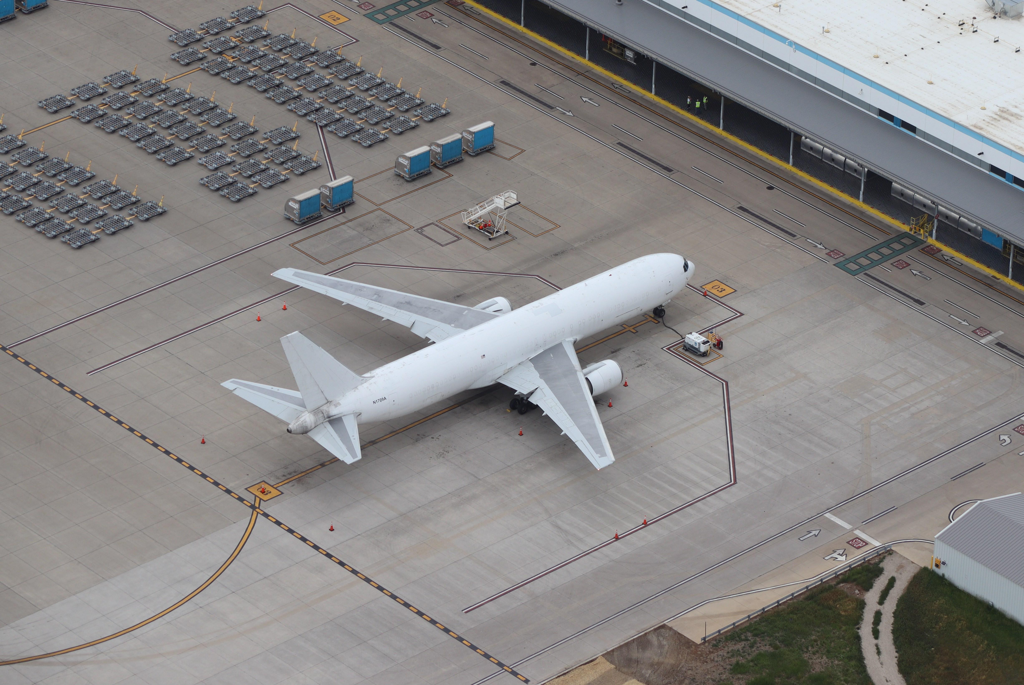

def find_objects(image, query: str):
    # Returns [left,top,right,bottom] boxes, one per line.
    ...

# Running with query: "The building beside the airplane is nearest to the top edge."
[463,0,1024,292]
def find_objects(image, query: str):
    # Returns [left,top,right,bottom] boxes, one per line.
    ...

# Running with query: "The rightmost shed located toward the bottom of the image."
[930,490,1024,620]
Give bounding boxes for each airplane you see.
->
[220,252,696,471]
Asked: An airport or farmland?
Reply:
airport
